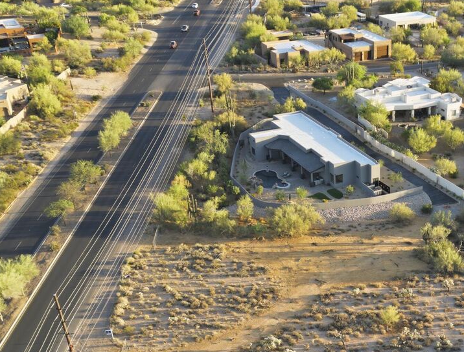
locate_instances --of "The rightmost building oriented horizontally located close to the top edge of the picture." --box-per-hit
[379,11,436,31]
